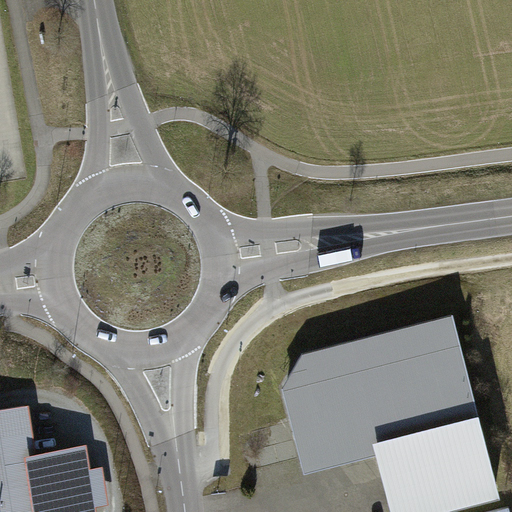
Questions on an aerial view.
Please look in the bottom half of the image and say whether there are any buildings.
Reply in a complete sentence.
Yes, a building shows up in the bottom half of the image.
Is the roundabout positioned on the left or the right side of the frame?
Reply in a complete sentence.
It is on the left.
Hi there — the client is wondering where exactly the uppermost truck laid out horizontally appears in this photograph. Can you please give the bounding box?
[318,246,363,268]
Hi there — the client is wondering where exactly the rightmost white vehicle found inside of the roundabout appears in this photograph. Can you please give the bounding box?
[182,196,200,218]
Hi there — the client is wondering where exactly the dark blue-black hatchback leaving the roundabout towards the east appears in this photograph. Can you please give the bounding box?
[219,284,238,304]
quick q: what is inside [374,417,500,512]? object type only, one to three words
building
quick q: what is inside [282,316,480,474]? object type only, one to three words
building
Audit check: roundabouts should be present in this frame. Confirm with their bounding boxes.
[0,83,312,446]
